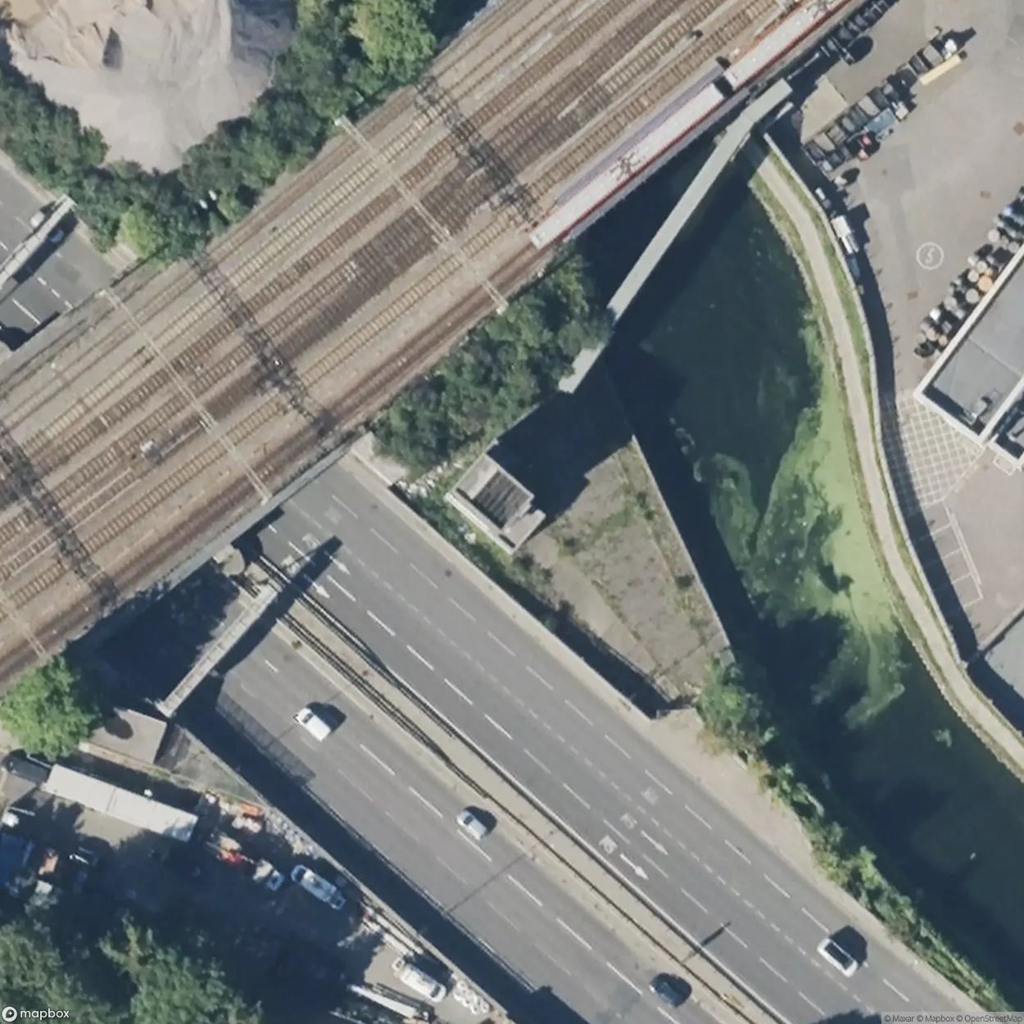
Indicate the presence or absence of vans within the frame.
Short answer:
Yes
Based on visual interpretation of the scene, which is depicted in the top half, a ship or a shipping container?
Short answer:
shipping container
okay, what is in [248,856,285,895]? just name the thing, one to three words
truck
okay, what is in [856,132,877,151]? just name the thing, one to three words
vehicle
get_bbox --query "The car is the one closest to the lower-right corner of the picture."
[816,936,858,976]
